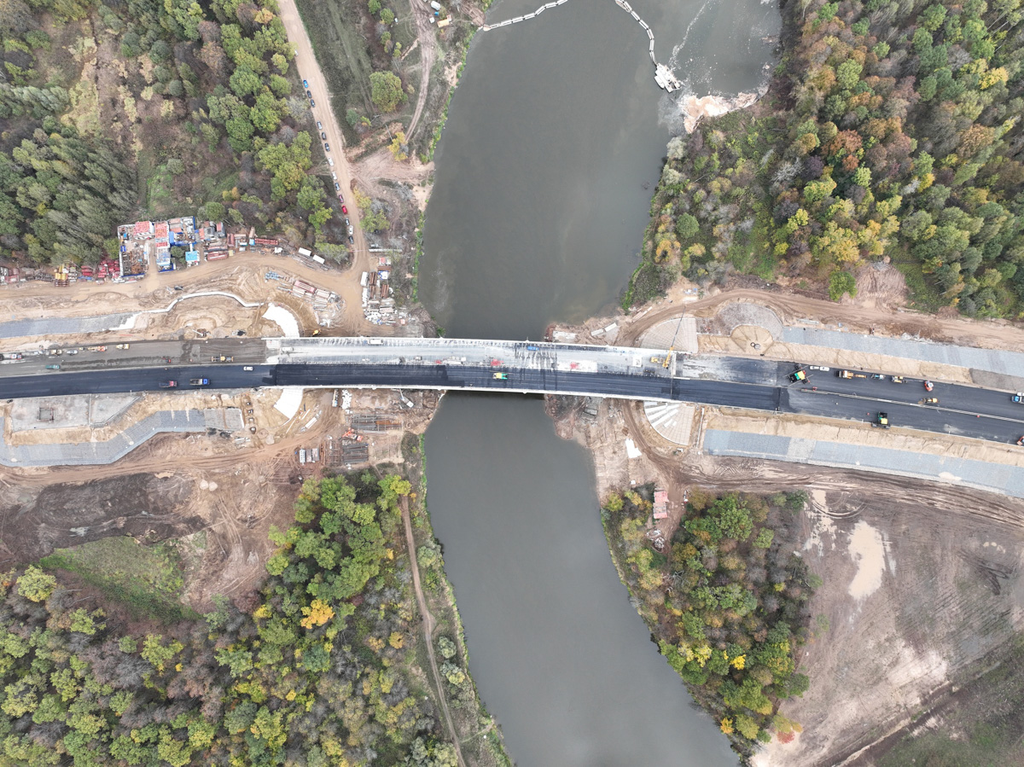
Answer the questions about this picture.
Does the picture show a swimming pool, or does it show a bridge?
bridge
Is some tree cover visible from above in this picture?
Yes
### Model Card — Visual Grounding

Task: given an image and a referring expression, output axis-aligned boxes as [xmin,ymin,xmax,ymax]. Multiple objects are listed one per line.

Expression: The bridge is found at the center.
[259,332,694,408]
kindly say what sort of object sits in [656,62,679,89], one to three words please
ship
